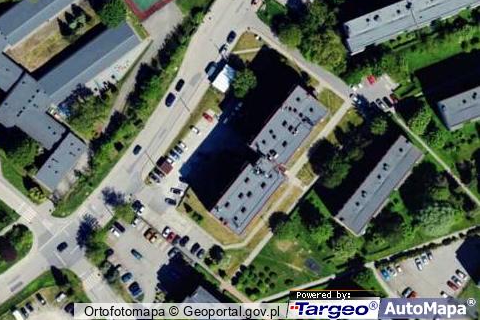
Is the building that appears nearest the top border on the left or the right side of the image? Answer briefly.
right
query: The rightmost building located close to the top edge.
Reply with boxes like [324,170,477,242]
[343,0,480,56]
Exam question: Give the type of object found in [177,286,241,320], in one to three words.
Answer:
building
